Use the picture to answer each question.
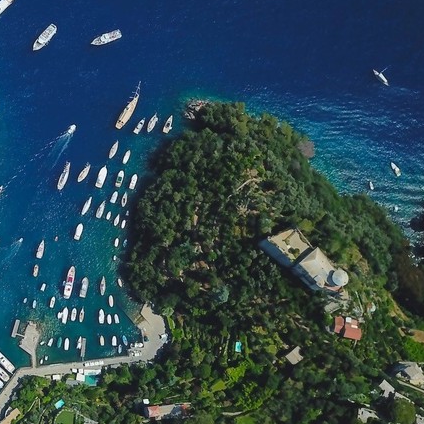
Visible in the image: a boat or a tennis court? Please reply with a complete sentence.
It is a boat that can be seen here.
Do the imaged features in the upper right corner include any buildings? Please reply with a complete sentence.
No, no building is visible in the upper right corner.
